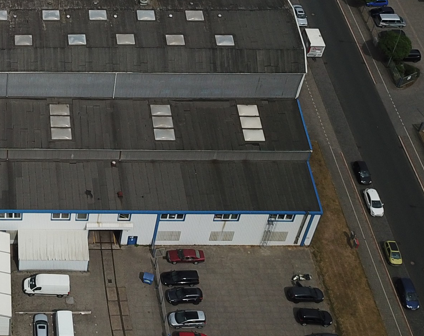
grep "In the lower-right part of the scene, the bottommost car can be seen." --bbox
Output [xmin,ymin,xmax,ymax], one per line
[292,307,334,327]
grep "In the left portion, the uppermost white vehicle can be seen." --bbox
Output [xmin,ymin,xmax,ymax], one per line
[23,267,72,293]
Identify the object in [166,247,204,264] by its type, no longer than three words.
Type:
car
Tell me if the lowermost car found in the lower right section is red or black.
black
